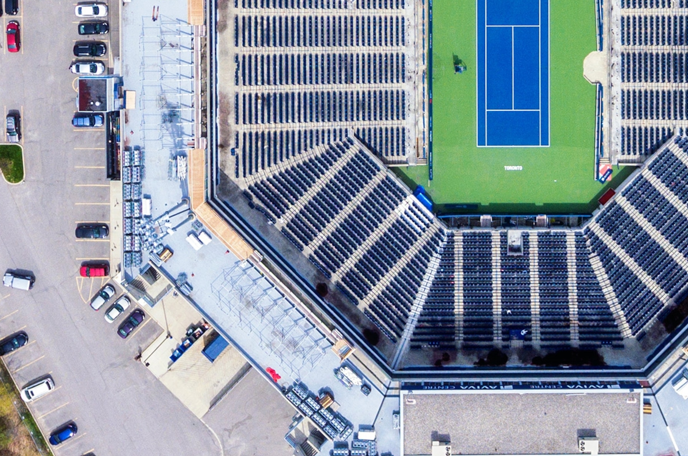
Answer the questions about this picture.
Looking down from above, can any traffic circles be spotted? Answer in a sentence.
No, this view has no traffic circle in it.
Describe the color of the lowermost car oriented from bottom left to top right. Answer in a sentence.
From above, the lowermost car oriented from bottom left to top right appears blue.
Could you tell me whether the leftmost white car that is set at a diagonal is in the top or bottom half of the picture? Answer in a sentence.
The leftmost white car that is set at a diagonal is in the bottom half of the image.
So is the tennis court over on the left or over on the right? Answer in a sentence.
You can find the tennis court on the right side of the picture.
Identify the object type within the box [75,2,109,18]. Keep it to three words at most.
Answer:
car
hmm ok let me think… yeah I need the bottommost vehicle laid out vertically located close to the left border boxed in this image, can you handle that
[6,111,21,143]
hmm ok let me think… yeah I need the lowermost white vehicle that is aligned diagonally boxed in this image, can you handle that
[21,375,57,403]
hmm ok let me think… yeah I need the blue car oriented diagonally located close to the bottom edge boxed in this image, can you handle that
[48,420,80,447]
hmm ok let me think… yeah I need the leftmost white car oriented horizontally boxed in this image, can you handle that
[3,271,37,289]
